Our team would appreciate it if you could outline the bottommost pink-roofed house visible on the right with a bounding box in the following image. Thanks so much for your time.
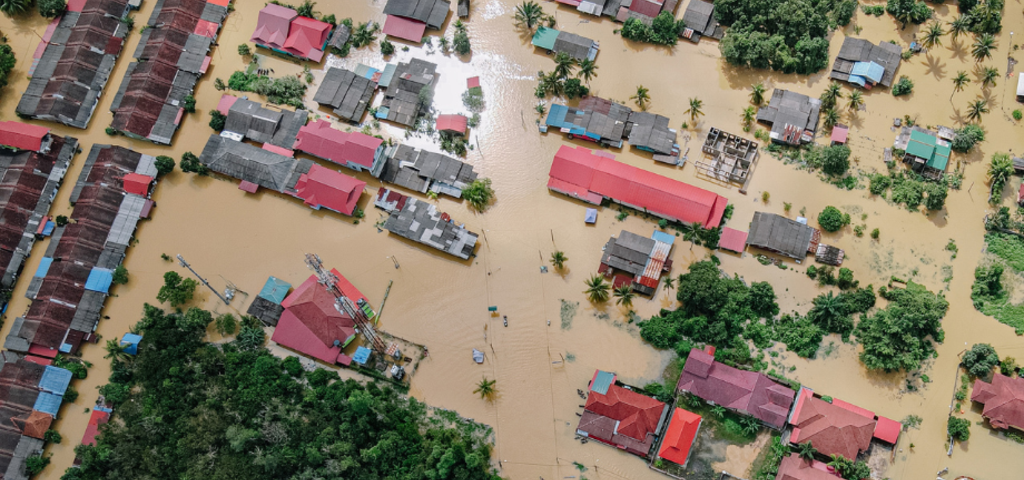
[777,452,846,480]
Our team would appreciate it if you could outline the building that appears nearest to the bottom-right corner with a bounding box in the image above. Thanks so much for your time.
[969,373,1024,437]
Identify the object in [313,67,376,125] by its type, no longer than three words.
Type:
house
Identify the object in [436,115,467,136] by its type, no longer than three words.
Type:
shed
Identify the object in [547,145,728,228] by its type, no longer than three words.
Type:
building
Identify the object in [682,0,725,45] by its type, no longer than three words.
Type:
house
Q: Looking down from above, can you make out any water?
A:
Yes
